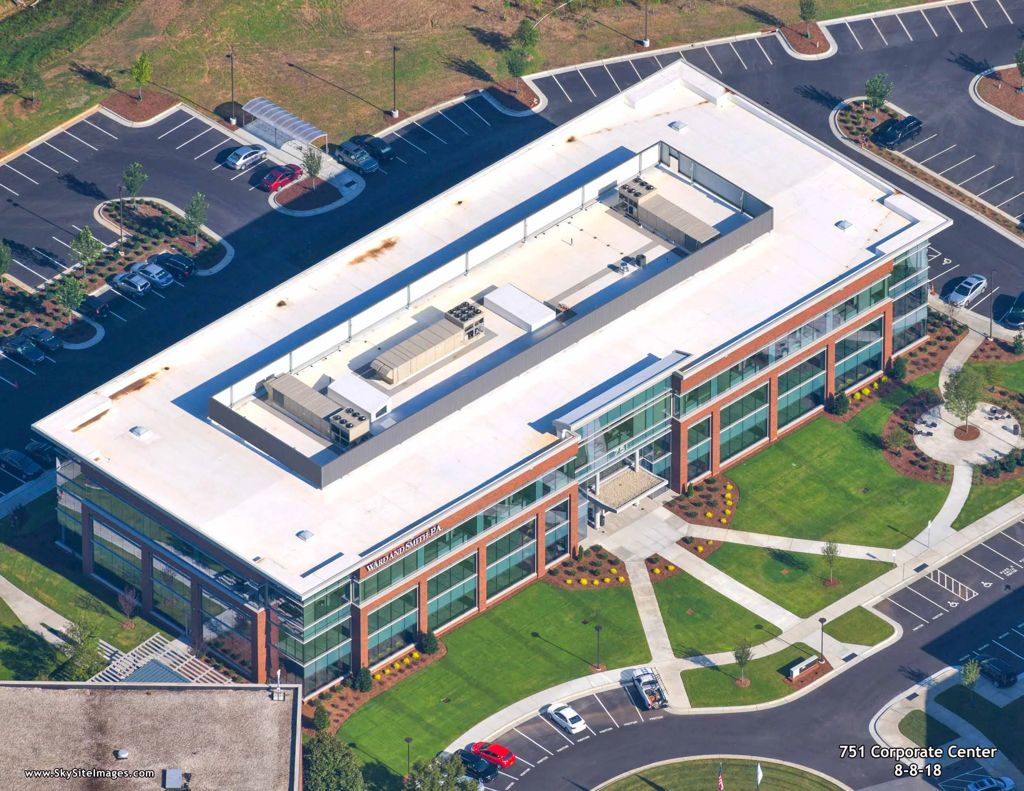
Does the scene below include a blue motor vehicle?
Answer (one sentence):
Yes, there's a blue motor vehicle down there.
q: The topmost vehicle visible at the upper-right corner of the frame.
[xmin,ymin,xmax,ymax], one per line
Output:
[879,116,923,150]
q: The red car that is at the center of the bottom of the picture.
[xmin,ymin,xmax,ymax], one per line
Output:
[472,742,516,771]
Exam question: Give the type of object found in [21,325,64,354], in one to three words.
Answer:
car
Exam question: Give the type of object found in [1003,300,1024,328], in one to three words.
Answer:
car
